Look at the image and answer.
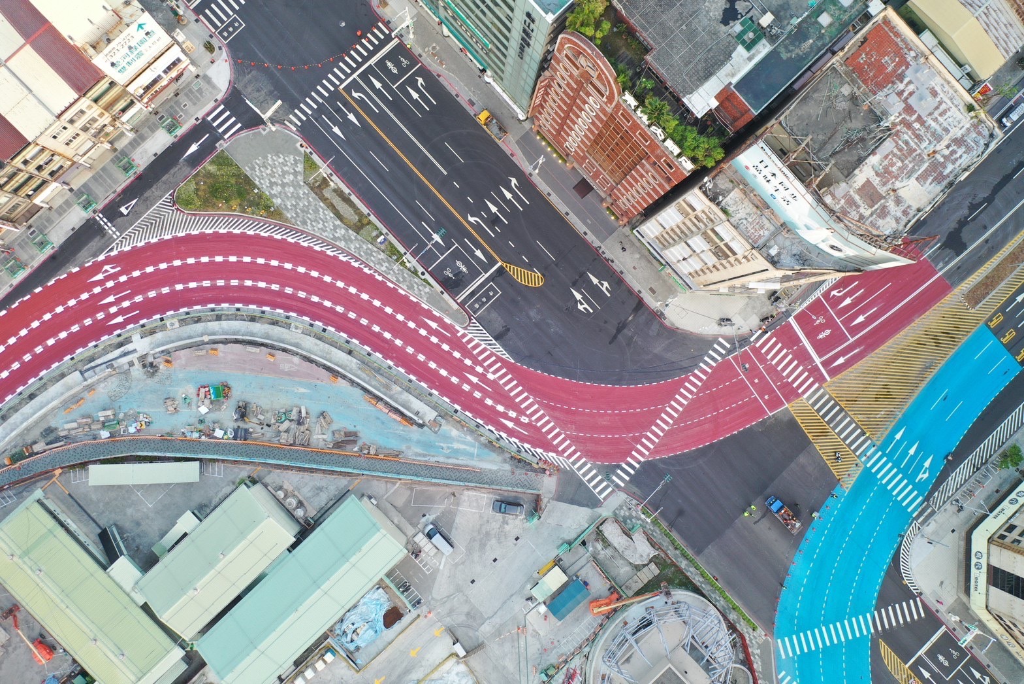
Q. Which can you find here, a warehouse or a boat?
warehouse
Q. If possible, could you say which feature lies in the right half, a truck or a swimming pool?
truck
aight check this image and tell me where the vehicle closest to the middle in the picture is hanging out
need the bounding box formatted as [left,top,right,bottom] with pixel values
[494,501,526,516]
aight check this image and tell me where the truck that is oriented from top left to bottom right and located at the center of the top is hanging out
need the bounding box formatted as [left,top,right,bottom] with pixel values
[477,106,508,141]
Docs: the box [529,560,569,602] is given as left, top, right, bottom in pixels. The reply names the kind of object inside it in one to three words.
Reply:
building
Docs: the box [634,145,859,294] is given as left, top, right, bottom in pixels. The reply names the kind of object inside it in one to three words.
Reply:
building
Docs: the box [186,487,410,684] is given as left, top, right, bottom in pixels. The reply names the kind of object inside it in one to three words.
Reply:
warehouse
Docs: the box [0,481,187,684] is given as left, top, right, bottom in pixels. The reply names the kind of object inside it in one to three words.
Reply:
warehouse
